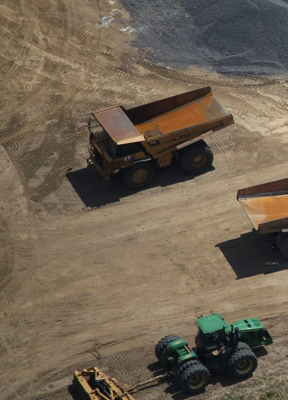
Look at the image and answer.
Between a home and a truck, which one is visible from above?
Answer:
truck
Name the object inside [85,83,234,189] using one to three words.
truck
